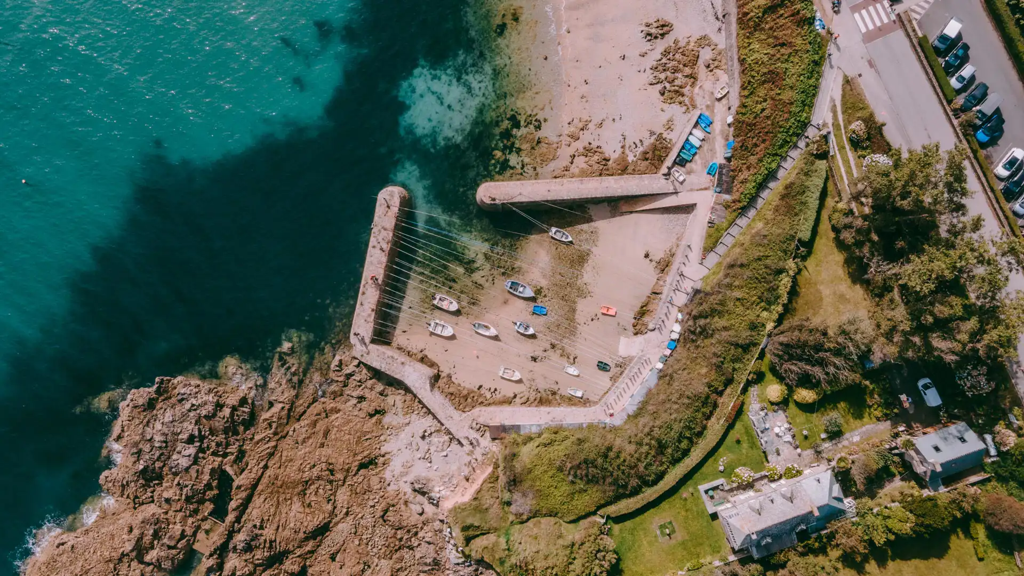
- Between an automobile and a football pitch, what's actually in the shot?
automobile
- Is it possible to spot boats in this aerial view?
Yes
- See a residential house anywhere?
Yes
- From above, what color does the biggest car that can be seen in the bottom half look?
blue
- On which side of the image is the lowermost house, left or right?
right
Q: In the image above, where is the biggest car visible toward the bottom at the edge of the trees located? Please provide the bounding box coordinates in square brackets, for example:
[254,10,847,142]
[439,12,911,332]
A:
[917,377,942,408]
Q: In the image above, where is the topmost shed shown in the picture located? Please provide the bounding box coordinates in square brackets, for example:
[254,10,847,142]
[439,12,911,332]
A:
[714,163,732,195]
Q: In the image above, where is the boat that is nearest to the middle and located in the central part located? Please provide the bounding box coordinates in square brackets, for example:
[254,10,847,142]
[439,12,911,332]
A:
[503,278,535,298]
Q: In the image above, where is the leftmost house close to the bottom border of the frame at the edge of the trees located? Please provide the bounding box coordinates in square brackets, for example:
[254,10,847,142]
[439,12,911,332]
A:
[708,462,851,571]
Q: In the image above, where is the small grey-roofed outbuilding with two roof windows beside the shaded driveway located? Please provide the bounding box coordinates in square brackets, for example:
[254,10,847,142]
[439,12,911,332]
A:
[895,419,984,492]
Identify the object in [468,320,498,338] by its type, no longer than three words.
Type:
boat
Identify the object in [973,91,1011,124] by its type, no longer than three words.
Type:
van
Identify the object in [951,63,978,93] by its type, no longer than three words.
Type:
car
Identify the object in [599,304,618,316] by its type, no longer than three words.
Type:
boat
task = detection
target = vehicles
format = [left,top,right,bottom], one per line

[1000,168,1024,199]
[917,377,942,408]
[1011,193,1024,217]
[951,63,978,93]
[941,42,972,74]
[973,91,1011,124]
[994,147,1024,180]
[973,113,1007,142]
[933,15,971,57]
[959,80,991,113]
